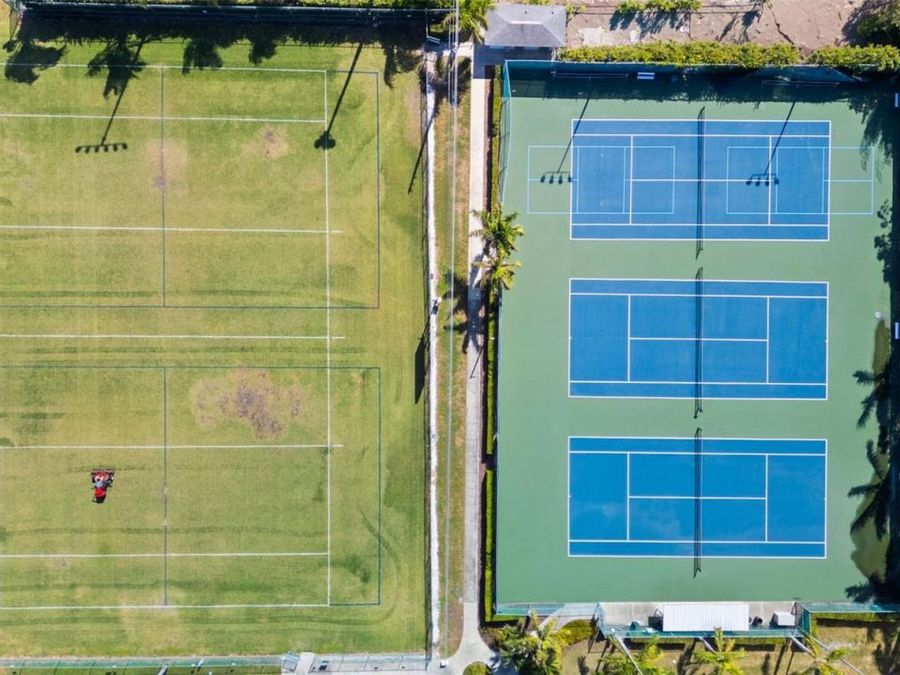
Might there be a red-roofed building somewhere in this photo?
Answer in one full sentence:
No, there isn't any red-roofed building down there.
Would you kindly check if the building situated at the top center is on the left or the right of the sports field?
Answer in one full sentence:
You can see the building situated at the top center positioned to the right of the sports field.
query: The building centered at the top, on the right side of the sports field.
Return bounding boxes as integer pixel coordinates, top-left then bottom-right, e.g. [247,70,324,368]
[484,4,566,52]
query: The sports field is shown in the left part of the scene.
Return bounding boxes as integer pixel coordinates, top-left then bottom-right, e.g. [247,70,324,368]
[0,22,427,657]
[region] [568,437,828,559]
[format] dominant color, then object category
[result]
blue tennis court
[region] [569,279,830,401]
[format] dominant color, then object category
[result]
blue tennis court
